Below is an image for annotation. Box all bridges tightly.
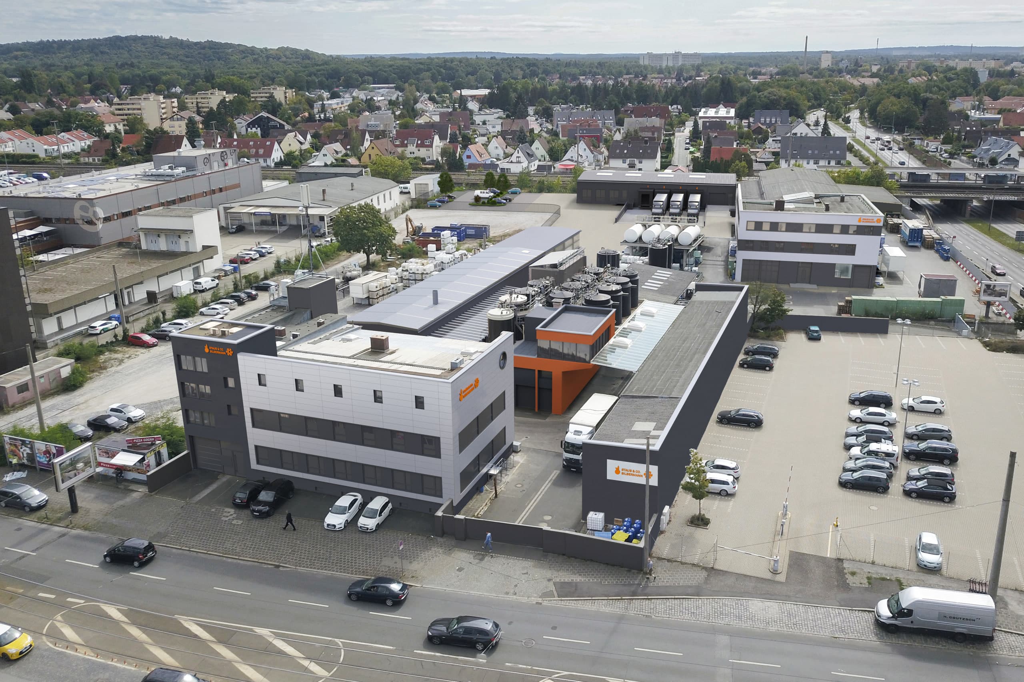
[896,178,1024,218]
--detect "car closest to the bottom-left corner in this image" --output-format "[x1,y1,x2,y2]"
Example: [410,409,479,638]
[0,627,31,661]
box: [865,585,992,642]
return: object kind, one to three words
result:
van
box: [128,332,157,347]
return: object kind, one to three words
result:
car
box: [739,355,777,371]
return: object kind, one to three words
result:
car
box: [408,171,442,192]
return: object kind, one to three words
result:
building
